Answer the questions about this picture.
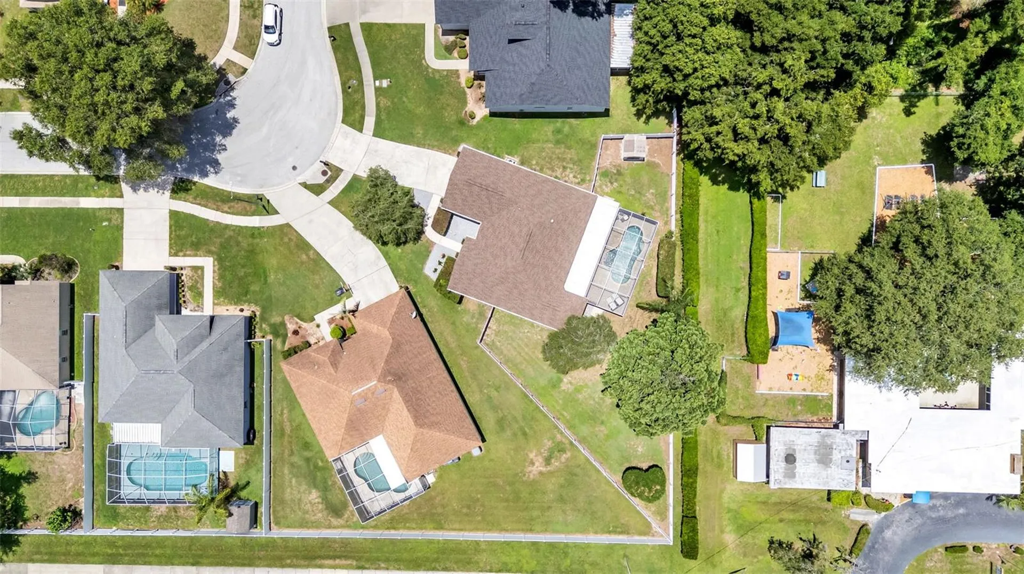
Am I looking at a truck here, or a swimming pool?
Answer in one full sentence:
Visible in the photo is a swimming pool.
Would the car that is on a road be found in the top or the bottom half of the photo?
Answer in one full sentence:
The car that is on a road is in the top half of the image.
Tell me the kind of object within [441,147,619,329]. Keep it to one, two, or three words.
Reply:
house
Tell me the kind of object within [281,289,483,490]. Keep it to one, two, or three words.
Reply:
house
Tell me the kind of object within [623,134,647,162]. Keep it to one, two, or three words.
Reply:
shed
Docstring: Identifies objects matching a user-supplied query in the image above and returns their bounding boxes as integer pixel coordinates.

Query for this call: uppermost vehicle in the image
[262,1,284,46]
